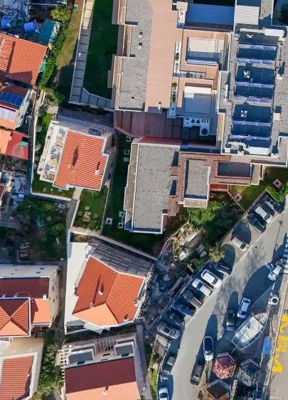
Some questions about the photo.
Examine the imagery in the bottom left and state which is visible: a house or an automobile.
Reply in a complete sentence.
The one visible in the bottom left is a house.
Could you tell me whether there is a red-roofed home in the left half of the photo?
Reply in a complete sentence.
Yes, you'll find a red-roofed home in the left half of the photo.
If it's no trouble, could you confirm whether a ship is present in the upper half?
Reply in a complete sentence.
No, no ship appears in the upper half.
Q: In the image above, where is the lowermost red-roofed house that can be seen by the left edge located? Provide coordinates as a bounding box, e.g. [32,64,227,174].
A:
[0,341,46,400]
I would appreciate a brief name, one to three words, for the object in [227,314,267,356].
ship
